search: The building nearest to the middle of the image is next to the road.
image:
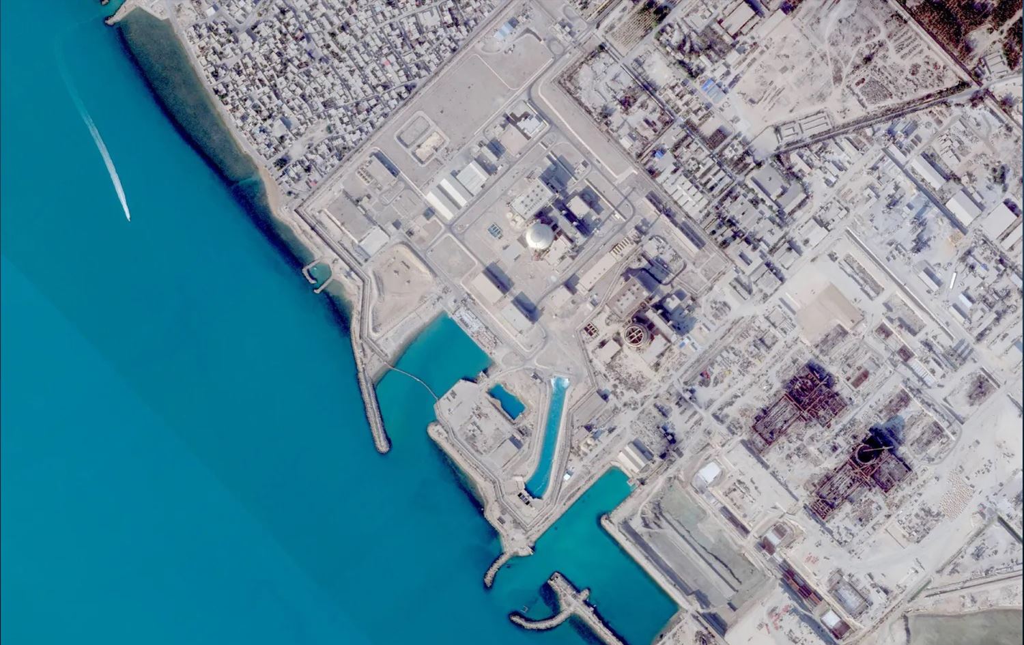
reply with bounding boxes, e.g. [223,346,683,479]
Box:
[502,301,532,332]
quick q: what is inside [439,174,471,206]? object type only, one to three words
shed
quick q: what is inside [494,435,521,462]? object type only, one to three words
building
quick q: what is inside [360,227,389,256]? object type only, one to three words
building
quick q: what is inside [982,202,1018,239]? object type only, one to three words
shed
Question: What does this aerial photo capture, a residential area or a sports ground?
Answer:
residential area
